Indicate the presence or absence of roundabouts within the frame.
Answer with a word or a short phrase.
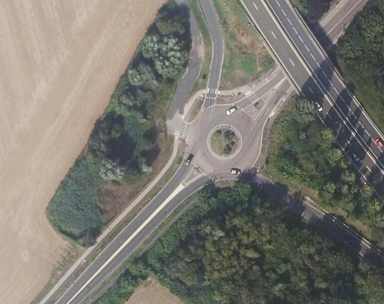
Yes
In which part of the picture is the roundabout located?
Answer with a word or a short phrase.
center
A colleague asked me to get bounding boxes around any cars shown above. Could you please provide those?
[314,102,322,112]
[229,168,240,174]
[184,154,194,165]
[226,106,236,115]
[350,152,360,162]
[374,138,384,148]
